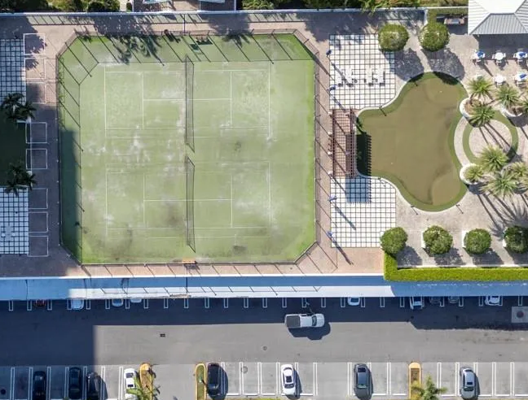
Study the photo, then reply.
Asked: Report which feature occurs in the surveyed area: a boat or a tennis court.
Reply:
tennis court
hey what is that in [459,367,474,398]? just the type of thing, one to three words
car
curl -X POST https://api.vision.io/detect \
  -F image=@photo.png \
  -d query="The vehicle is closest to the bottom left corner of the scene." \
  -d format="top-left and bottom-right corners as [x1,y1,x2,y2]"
[31,371,47,400]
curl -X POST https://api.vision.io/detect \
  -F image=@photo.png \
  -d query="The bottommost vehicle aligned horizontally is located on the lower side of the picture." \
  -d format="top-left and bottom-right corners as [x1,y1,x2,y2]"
[284,313,324,329]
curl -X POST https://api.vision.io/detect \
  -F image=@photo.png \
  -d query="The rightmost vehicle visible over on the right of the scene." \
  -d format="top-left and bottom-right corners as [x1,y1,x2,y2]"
[484,295,500,308]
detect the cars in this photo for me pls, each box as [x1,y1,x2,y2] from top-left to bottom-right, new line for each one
[207,365,222,396]
[68,299,83,311]
[344,297,360,308]
[408,296,424,311]
[281,365,296,396]
[446,296,460,306]
[32,299,47,309]
[130,298,143,306]
[86,371,101,400]
[123,368,137,400]
[459,367,474,398]
[111,298,124,309]
[484,295,500,308]
[31,371,47,400]
[427,296,441,306]
[355,365,370,397]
